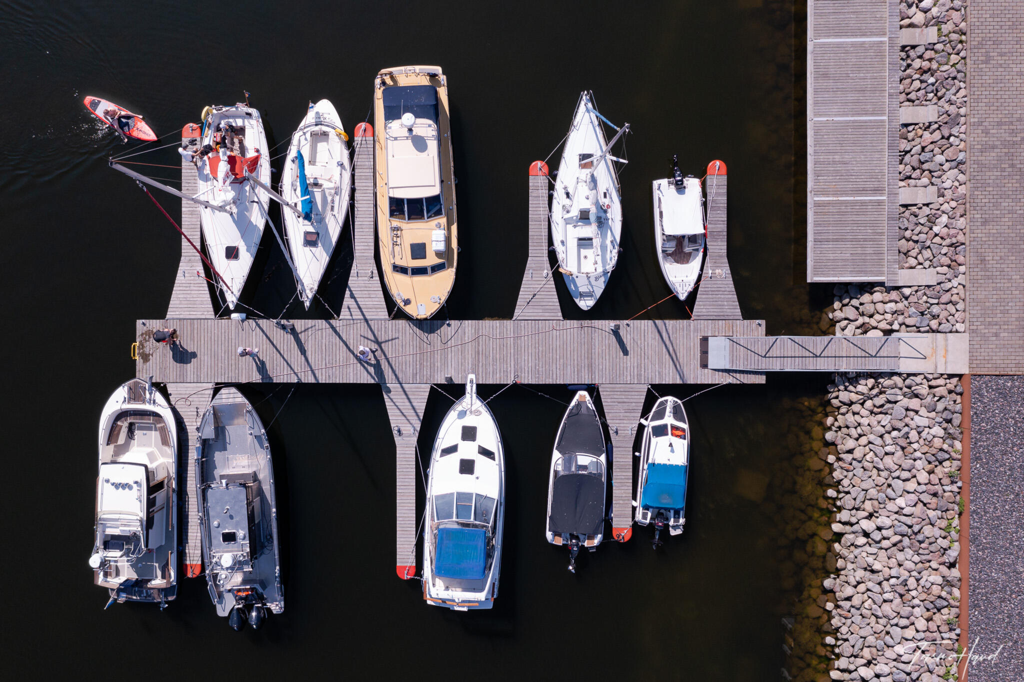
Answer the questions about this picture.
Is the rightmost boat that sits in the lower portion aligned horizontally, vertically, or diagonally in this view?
vertically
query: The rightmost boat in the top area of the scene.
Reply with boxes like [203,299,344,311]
[652,151,706,302]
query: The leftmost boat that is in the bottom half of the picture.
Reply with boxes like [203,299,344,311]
[88,376,184,611]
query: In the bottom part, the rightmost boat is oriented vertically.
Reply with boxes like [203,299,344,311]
[631,395,691,554]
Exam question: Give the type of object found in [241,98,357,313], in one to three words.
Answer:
boat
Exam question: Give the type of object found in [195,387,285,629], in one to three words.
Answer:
boat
